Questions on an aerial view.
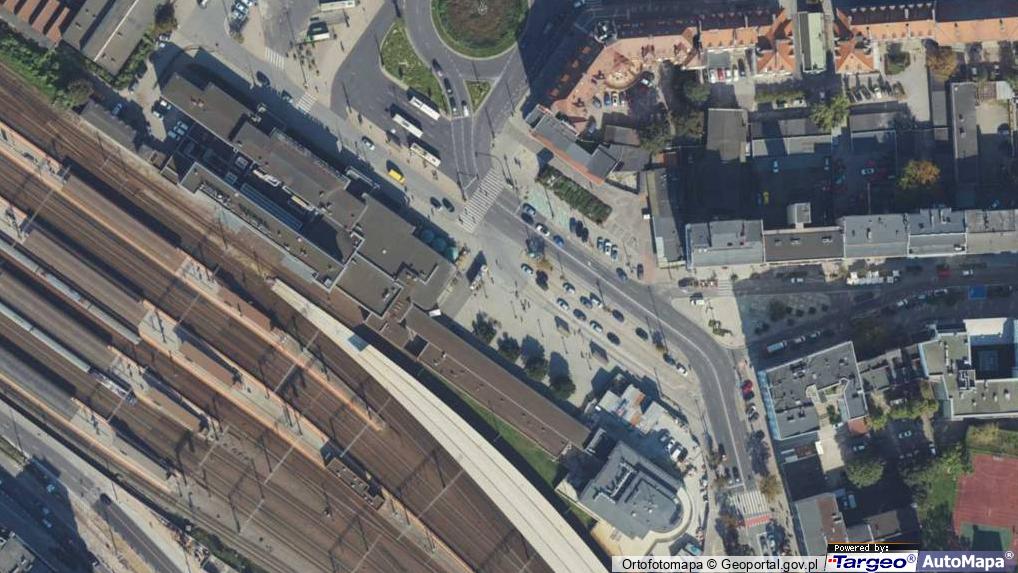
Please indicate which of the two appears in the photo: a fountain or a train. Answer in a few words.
train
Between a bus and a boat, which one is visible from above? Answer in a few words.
bus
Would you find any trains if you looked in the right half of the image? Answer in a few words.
No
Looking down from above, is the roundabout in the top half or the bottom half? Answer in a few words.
top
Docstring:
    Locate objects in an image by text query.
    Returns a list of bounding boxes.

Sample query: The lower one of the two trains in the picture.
[0,301,134,404]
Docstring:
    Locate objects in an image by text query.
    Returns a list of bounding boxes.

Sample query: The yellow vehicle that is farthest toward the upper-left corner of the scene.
[387,167,406,183]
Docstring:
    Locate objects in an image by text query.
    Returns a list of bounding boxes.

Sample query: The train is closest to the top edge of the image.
[0,236,141,343]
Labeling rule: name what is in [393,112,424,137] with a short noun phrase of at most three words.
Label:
bus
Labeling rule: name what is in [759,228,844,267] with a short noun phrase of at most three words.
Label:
house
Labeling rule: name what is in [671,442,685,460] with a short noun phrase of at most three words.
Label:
vehicle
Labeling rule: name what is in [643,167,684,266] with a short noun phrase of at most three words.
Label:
building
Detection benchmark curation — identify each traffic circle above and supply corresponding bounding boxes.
[401,0,560,90]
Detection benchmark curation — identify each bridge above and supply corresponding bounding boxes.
[256,271,608,573]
